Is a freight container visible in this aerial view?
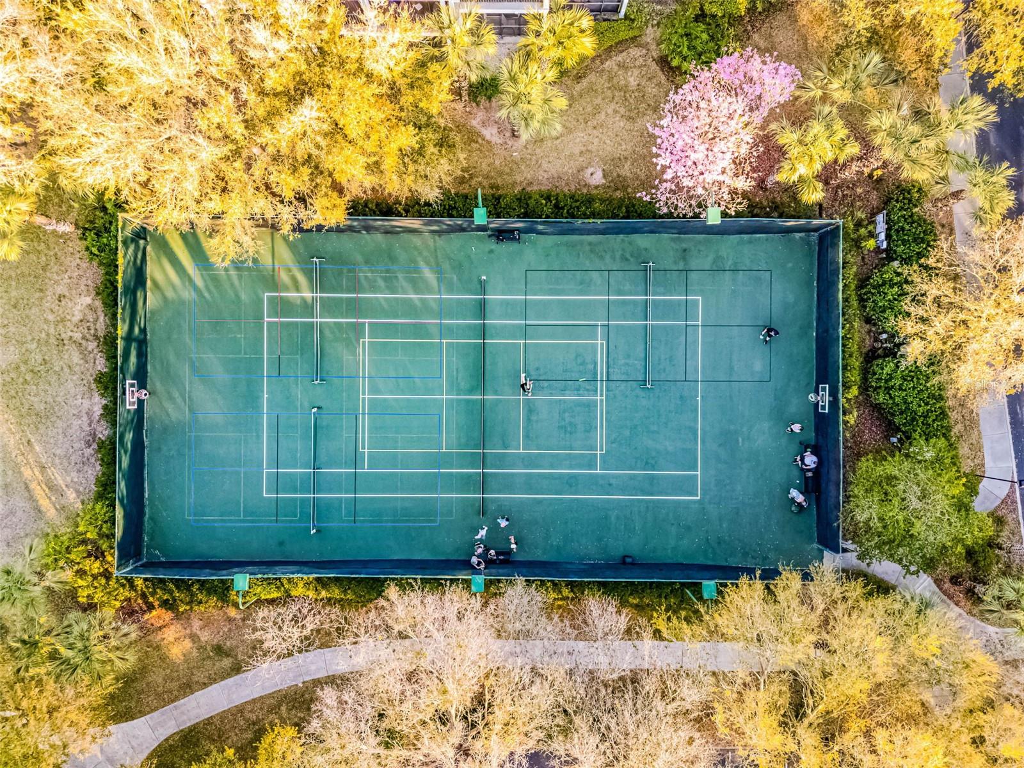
No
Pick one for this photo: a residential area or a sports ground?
sports ground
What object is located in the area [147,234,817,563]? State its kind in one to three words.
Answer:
tennis court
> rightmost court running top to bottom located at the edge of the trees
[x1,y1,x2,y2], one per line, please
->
[343,274,456,519]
